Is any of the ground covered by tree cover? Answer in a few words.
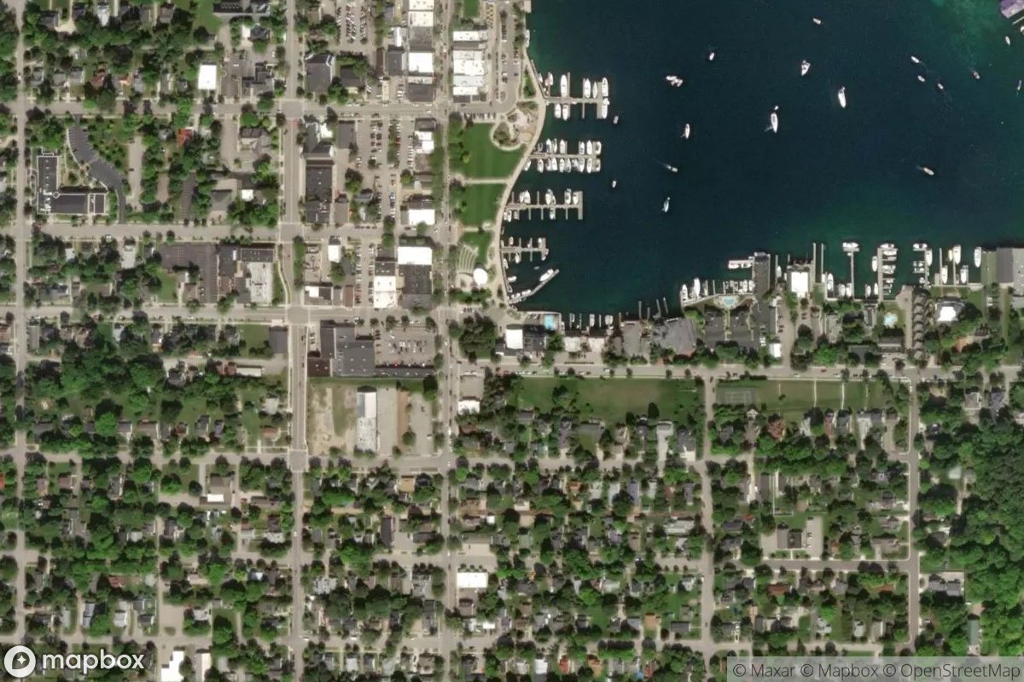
Yes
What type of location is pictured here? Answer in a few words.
residential area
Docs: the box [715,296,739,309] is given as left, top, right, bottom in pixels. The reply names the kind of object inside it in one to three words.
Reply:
swimming pool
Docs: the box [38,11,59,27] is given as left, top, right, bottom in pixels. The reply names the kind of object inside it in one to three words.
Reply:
house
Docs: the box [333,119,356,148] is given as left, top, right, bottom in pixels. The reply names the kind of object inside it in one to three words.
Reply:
building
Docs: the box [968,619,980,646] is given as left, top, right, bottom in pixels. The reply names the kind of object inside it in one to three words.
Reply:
shed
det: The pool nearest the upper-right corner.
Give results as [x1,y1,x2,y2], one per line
[883,312,899,328]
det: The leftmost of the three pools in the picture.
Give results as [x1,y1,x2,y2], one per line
[538,314,560,332]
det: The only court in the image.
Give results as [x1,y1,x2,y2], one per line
[724,389,754,404]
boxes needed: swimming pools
[883,312,899,328]
[538,314,560,332]
[715,296,739,309]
